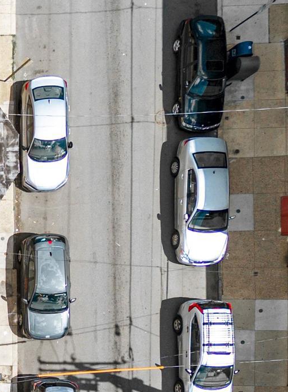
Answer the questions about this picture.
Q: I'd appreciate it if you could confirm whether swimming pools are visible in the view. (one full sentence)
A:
No, there appears to be no swimming pool in this shot.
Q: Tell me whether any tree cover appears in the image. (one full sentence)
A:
No, there's no tree cover in this view.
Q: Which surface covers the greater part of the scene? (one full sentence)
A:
For the most part, this view shows paved ground.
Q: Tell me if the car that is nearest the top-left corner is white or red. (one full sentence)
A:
The color of the car that is nearest the top-left corner is white.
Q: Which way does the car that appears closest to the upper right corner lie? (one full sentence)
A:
What the image shows is the car that appears closest to the upper right corner lying from top to bottom.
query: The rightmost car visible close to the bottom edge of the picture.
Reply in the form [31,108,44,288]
[175,293,240,392]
